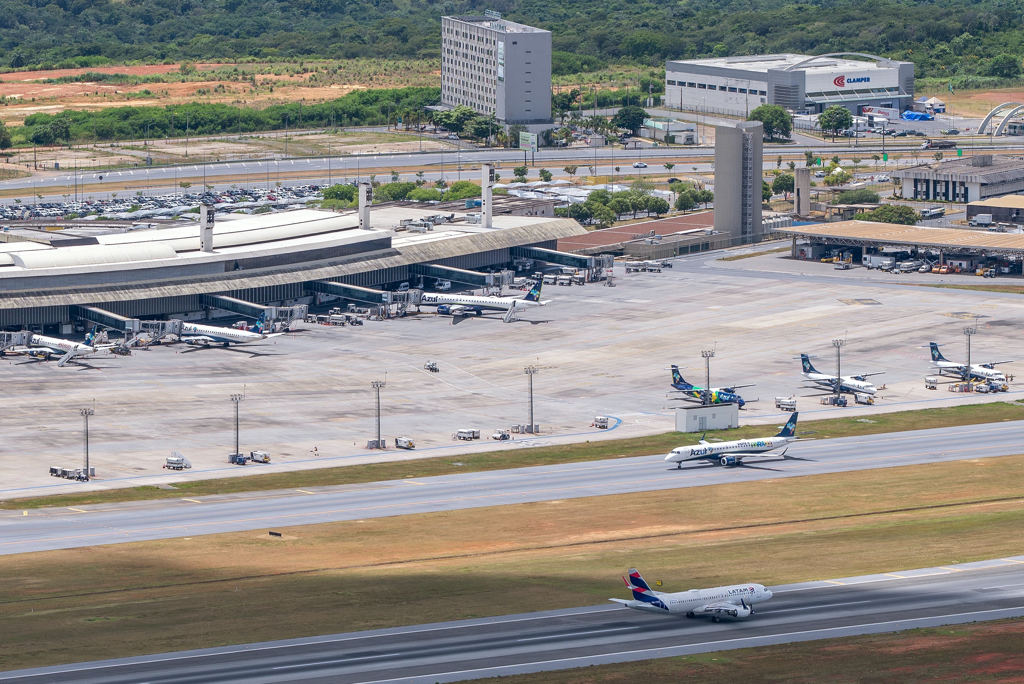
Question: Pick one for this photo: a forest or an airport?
airport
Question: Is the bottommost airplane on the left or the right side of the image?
right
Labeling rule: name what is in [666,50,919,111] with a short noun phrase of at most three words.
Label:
building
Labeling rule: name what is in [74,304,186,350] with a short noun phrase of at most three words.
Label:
jet bridge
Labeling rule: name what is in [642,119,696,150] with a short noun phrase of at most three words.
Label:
building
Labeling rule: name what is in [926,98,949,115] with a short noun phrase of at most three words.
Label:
tent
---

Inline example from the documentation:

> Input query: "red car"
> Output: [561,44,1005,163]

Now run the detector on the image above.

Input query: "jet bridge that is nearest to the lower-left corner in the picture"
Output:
[0,330,29,364]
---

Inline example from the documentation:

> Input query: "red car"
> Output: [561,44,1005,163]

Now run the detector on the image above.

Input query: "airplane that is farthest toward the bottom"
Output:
[608,566,775,621]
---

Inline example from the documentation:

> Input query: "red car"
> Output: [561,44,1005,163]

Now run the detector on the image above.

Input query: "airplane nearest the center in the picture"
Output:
[414,276,550,315]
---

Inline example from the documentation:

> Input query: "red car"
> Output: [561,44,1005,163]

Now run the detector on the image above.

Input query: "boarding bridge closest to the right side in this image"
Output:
[518,246,616,286]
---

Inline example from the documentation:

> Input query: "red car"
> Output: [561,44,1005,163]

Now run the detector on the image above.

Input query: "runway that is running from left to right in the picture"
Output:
[0,564,1024,684]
